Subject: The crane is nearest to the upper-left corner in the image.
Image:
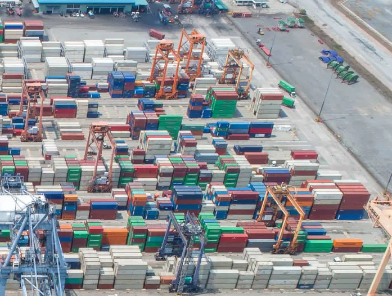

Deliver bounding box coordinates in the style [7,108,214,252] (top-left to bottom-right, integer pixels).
[16,84,45,141]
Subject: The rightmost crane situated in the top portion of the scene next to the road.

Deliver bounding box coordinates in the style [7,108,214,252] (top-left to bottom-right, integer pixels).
[220,46,260,98]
